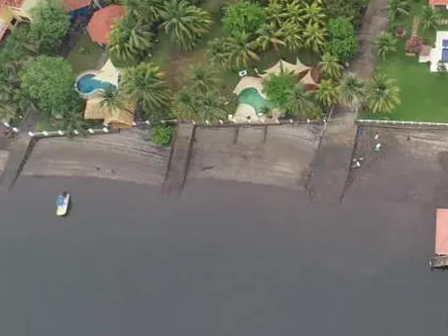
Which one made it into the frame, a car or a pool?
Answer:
pool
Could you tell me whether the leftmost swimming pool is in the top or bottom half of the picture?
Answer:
top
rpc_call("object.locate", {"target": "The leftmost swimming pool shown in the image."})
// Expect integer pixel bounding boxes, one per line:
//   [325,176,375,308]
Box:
[74,71,119,97]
